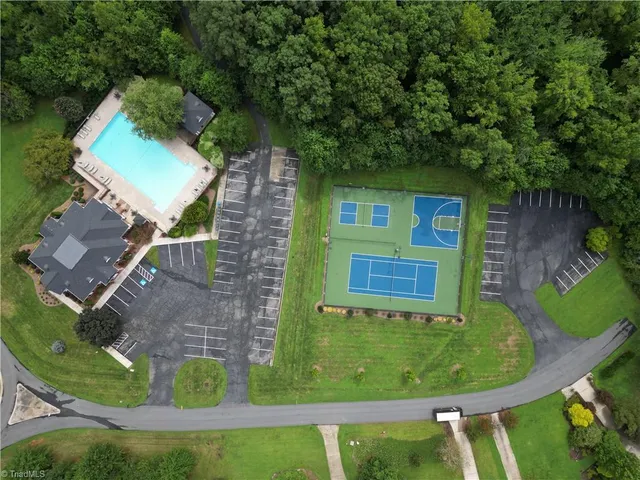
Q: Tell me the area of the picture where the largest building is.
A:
left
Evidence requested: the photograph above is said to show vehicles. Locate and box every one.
[434,408,462,422]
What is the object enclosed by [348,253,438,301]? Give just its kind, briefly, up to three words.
tennis court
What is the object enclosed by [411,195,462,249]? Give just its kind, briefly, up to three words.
basketball court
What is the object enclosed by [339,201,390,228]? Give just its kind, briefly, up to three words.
sports court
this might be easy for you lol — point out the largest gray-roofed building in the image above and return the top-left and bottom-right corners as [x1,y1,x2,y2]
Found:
[28,197,135,303]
